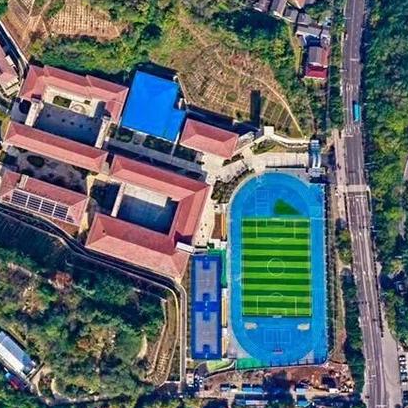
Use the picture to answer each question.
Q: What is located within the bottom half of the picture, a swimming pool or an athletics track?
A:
athletics track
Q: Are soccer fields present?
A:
Yes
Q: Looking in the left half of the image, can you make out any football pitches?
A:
No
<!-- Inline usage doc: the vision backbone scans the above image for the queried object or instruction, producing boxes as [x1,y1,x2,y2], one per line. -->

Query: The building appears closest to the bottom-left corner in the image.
[0,330,36,374]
